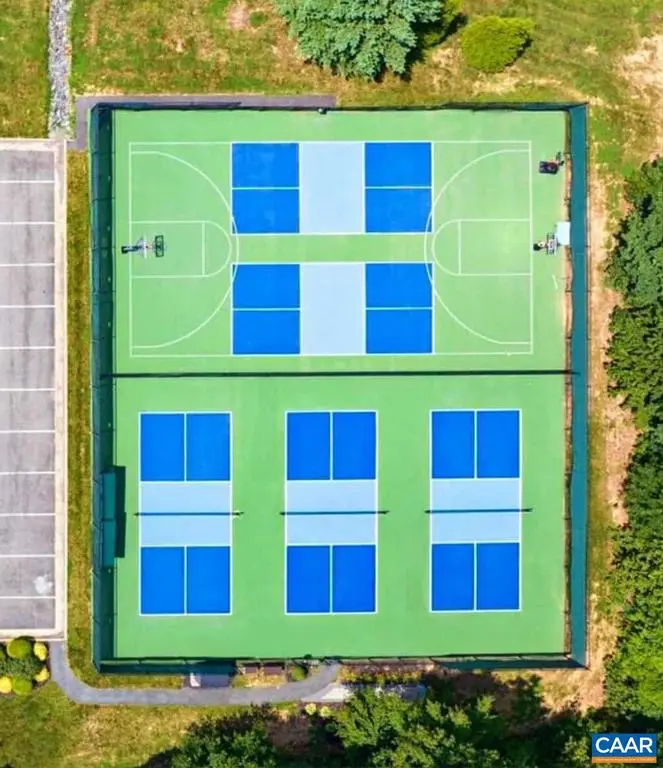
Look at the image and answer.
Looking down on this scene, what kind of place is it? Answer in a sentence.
The area seen from above is a sports ground.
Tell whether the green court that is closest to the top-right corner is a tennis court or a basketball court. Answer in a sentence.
It turns out the green court that is closest to the top-right corner is a basketball court.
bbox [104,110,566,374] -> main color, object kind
green basketball court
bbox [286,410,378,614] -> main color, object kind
blue sports court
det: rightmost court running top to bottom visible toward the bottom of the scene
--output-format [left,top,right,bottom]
[430,409,522,612]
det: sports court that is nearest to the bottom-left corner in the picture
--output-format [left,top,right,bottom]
[139,412,232,616]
